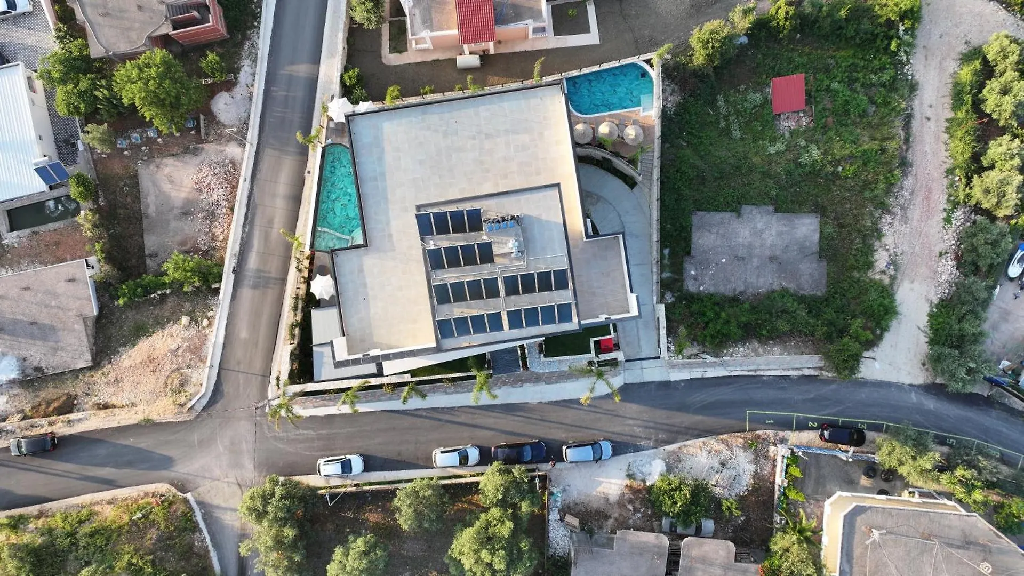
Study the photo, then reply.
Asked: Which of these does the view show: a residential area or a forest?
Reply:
residential area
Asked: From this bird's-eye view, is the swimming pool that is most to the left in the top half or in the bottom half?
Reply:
top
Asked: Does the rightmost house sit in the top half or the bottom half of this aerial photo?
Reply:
bottom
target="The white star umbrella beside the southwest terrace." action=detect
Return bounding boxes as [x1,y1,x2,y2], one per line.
[311,274,334,300]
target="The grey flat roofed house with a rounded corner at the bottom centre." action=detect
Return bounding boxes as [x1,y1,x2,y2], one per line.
[568,520,670,576]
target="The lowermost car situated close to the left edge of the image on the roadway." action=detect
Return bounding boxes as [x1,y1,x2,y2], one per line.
[11,432,59,458]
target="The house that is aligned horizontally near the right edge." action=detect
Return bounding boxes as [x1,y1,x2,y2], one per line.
[820,486,1024,576]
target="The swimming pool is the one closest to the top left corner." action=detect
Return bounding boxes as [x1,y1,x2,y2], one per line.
[312,143,363,252]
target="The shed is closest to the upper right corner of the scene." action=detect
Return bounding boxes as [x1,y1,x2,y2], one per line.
[765,74,805,116]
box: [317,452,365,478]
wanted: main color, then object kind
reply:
white car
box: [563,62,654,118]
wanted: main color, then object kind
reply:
blue swimming pool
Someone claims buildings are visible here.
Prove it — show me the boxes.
[765,74,805,116]
[600,338,614,354]
[311,81,641,385]
[676,530,759,576]
[820,486,1024,576]
[67,0,235,76]
[404,0,547,58]
[0,61,66,207]
[568,520,670,576]
[0,258,113,386]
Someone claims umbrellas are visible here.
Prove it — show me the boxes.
[354,100,376,110]
[326,98,353,124]
[311,274,334,300]
[575,124,593,144]
[597,122,618,142]
[622,125,643,146]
